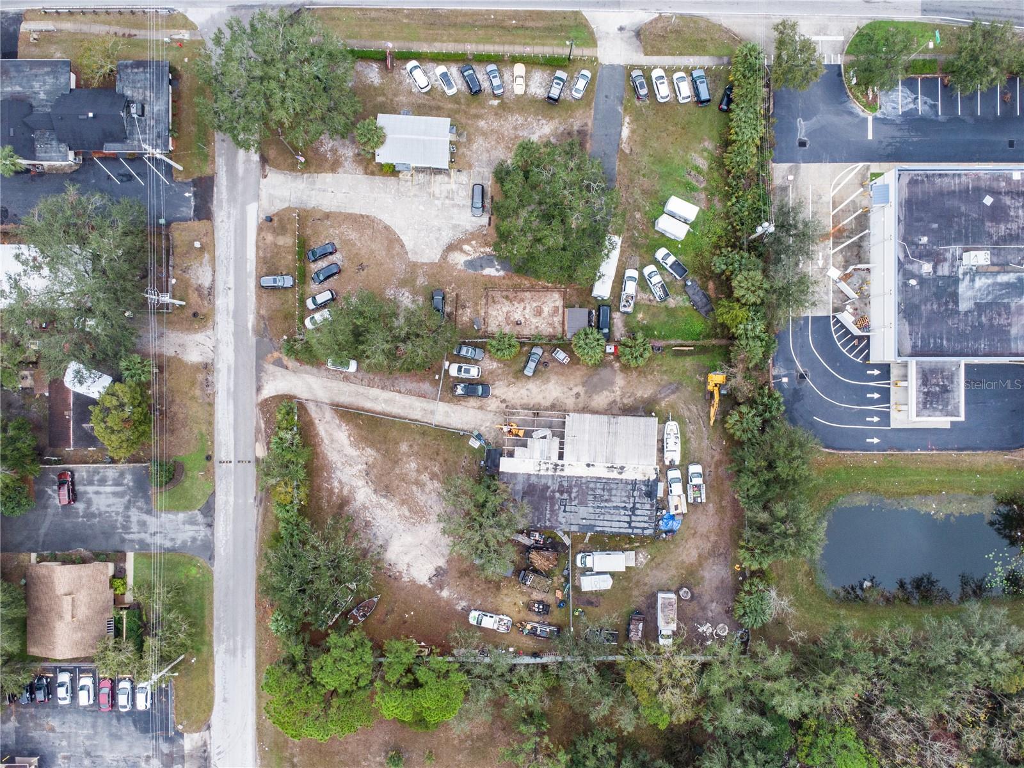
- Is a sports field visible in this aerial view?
No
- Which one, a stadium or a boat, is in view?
boat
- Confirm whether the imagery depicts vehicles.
Yes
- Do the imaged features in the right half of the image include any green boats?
No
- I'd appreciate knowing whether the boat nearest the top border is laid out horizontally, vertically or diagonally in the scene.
vertically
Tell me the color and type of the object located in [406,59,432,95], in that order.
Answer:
white car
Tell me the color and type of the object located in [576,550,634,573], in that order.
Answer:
white truck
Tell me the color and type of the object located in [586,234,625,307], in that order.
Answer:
white trailer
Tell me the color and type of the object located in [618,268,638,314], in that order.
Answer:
white vehicle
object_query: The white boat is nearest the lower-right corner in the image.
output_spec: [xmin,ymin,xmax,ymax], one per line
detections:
[660,414,680,469]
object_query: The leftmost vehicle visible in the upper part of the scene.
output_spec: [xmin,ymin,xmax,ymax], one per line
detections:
[260,273,294,289]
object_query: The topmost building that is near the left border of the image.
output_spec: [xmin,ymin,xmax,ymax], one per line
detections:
[0,58,174,164]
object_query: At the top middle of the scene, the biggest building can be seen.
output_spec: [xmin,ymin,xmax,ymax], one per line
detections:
[375,108,457,172]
